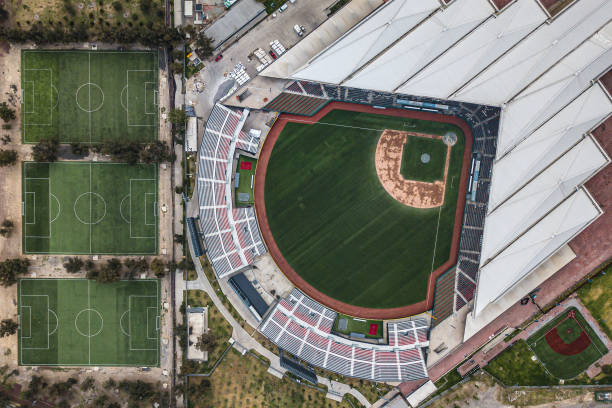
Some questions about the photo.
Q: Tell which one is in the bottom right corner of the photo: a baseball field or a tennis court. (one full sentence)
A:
There is a baseball field in the bottom right corner of the photo.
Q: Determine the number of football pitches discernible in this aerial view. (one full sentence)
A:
There are 3 football pitches in the image.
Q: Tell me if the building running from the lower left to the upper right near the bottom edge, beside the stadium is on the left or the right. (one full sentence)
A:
The building running from the lower left to the upper right near the bottom edge, beside the stadium appears in the right half of the scene.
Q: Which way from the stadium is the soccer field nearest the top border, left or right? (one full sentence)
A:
The stadium has the soccer field nearest the top border on its left side.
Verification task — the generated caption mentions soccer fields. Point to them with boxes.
[22,50,158,143]
[18,279,160,367]
[22,161,158,255]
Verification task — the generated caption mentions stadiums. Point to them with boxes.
[198,0,612,382]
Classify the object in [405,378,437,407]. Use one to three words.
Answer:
building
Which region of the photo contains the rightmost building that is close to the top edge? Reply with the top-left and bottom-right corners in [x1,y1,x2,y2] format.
[204,0,265,51]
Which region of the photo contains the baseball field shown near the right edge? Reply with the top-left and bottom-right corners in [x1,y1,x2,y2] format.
[527,305,611,380]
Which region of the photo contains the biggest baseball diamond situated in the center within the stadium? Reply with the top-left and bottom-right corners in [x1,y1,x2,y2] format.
[254,101,472,320]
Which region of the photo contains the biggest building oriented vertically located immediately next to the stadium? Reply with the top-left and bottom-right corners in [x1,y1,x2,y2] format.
[185,116,198,152]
